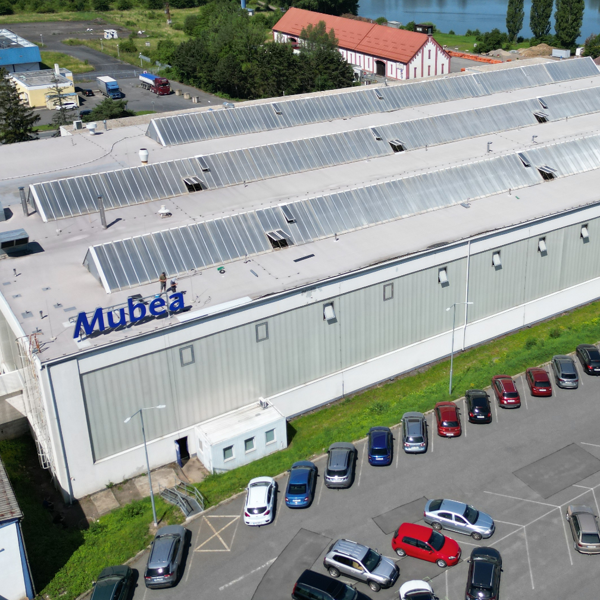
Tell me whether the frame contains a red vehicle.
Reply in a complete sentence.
Yes, this view includes a red vehicle.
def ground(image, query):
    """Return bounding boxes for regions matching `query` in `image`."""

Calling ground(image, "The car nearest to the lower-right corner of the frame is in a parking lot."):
[565,500,600,551]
